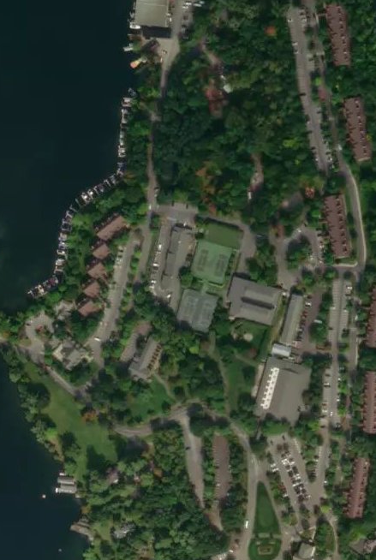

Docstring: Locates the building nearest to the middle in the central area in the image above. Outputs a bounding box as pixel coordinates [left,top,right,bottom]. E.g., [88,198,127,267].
[163,226,196,284]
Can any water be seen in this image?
Yes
